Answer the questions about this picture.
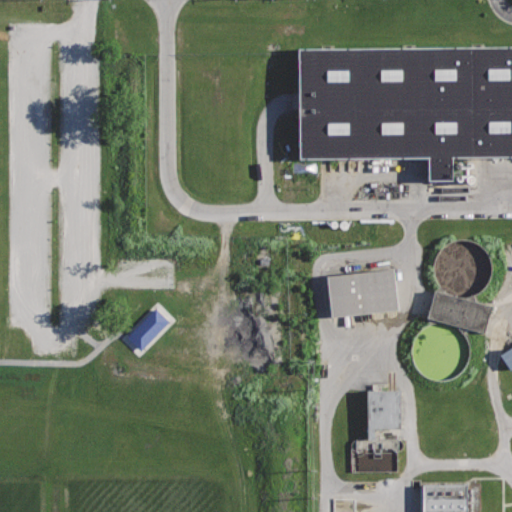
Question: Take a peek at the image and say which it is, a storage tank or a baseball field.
storage tank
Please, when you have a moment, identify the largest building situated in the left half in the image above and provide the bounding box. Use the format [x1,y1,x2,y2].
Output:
[122,302,176,358]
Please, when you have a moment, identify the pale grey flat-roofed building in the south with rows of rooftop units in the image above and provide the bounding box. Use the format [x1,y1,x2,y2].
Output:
[423,484,468,512]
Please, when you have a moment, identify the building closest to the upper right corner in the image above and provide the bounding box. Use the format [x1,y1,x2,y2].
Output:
[300,46,512,182]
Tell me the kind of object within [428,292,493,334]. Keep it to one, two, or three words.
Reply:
building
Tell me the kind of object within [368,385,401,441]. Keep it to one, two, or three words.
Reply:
building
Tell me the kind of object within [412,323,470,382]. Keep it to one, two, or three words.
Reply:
storage tank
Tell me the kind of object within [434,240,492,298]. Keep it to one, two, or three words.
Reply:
storage tank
